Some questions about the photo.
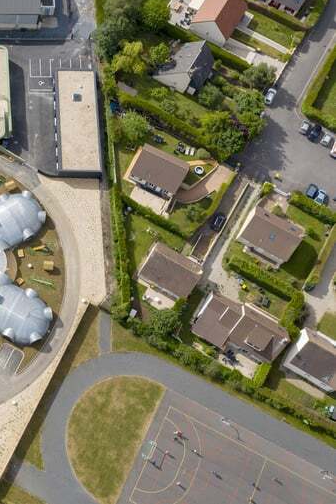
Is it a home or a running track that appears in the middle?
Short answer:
home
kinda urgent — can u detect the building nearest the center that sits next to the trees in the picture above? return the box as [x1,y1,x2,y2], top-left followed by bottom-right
[136,241,204,300]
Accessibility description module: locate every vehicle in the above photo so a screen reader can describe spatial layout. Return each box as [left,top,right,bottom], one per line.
[304,183,318,199]
[308,125,322,141]
[314,189,329,206]
[327,143,336,158]
[211,212,227,232]
[264,89,277,104]
[298,120,312,135]
[318,133,333,148]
